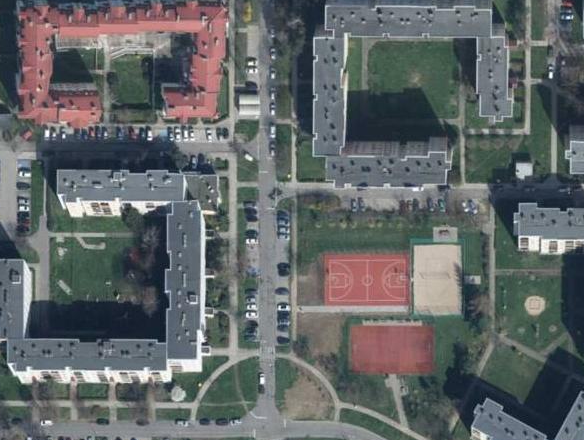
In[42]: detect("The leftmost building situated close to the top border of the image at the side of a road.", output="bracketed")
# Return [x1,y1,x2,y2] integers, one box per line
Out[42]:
[16,0,229,132]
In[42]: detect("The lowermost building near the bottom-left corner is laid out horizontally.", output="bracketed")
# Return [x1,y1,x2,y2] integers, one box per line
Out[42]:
[6,339,169,385]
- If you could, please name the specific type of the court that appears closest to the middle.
basketball court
